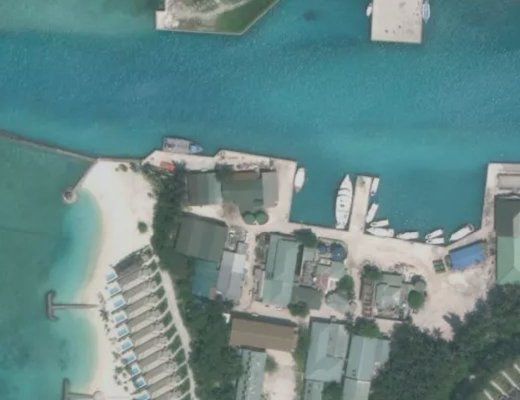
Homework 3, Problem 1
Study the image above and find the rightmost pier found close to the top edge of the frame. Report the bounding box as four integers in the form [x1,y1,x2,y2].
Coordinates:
[371,0,422,43]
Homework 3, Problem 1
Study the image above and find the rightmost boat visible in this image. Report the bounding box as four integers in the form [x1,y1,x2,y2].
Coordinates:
[450,224,475,241]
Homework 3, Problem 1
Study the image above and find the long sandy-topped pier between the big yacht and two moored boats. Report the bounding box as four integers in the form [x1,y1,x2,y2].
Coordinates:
[349,176,371,234]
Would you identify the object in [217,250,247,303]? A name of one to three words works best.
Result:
shed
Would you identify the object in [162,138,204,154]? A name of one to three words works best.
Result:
ship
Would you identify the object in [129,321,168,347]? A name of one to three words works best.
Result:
house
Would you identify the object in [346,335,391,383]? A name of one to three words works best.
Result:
building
